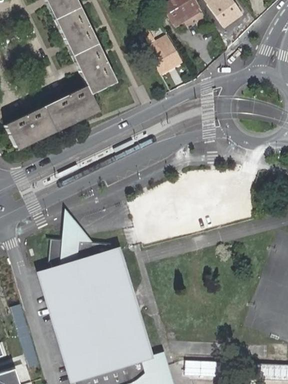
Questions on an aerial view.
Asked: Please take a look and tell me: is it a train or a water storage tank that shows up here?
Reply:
train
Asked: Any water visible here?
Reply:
No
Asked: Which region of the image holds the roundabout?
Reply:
top right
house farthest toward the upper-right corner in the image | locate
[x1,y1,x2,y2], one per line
[204,0,242,28]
